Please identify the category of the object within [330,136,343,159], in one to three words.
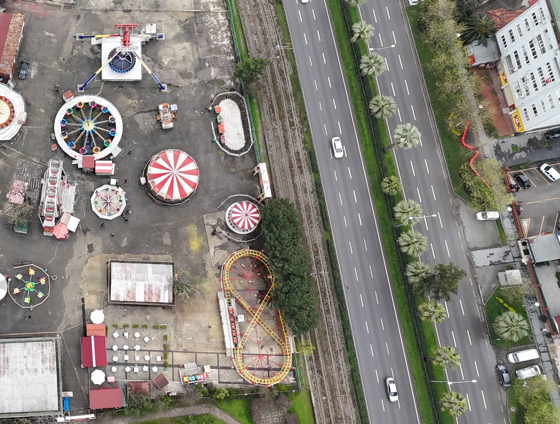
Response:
vehicle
